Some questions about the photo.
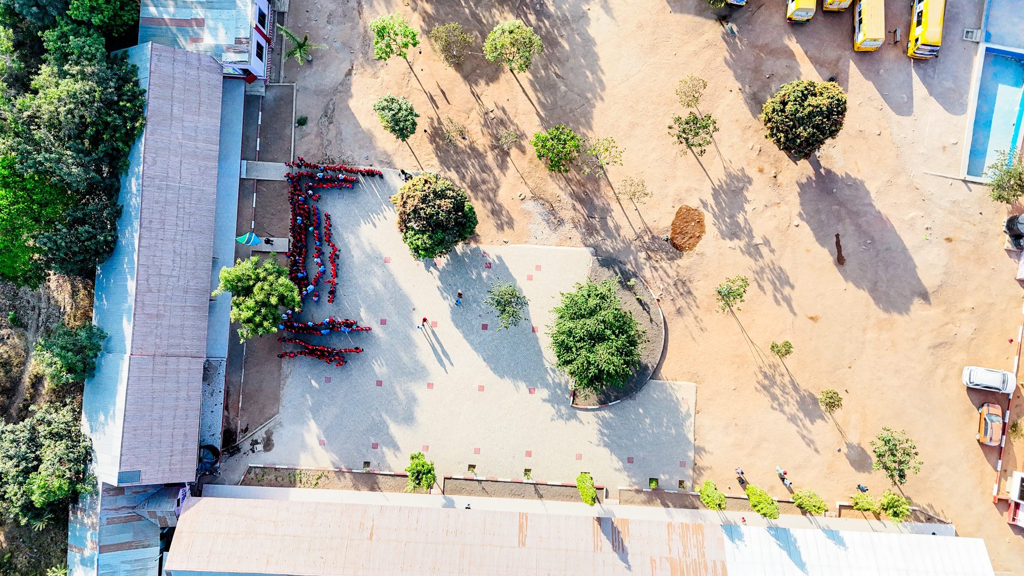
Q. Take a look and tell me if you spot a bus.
Yes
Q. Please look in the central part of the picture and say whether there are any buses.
No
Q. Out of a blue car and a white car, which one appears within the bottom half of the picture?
white car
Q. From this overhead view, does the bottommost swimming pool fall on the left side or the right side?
right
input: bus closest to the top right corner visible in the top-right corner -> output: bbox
[908,0,949,57]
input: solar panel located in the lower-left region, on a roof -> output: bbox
[118,470,141,484]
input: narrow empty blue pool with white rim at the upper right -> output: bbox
[963,44,1024,190]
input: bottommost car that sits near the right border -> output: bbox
[977,404,1009,450]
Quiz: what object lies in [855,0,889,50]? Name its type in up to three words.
bus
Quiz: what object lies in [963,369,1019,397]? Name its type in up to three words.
car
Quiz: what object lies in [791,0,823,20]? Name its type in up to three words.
bus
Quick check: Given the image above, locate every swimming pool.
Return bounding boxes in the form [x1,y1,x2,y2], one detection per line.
[963,44,1024,190]
[980,0,1024,47]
